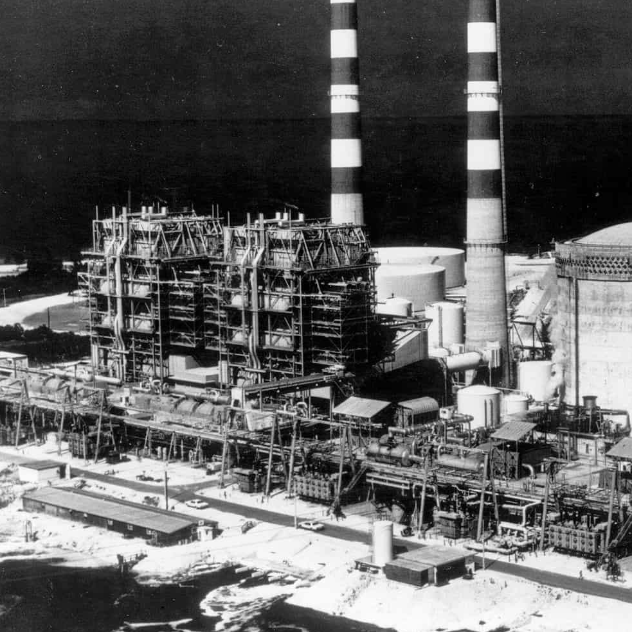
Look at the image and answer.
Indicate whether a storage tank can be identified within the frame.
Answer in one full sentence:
Yes, this view includes a storage tank.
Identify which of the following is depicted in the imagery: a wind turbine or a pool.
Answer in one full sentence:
I can see a wind turbine in this picture.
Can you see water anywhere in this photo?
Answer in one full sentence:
Yes, the picture does contain water.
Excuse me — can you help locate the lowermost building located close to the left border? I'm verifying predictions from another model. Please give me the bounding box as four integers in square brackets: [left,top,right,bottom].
[13,482,208,544]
